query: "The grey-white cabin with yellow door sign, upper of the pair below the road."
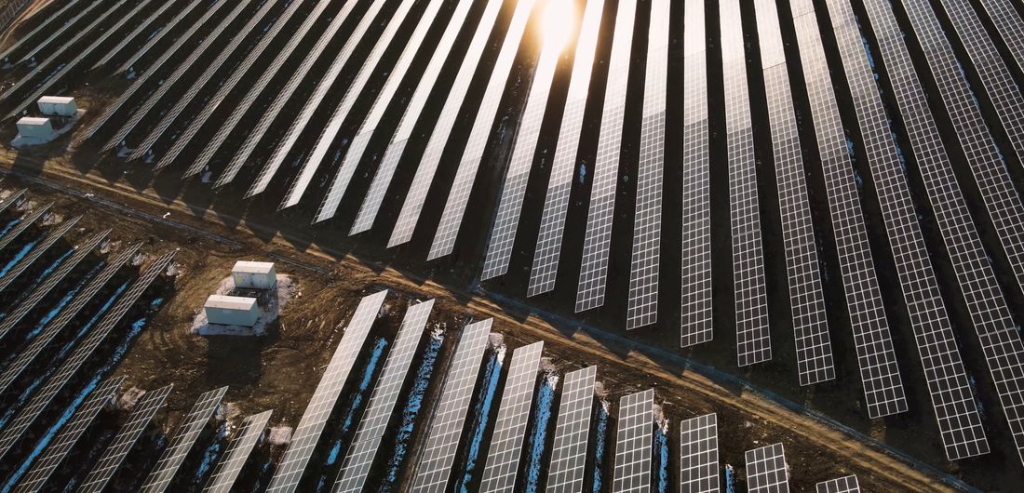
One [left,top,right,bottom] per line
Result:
[229,260,277,288]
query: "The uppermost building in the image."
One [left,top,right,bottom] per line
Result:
[36,95,79,116]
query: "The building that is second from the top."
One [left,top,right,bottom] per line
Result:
[12,116,55,138]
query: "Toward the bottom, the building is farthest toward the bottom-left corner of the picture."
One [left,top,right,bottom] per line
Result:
[201,292,261,323]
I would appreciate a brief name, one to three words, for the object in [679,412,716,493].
solar array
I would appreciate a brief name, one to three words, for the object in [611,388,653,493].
solar array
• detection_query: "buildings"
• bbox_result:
[201,292,261,323]
[12,116,55,138]
[36,95,79,116]
[229,260,277,288]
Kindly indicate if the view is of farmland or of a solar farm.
solar farm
